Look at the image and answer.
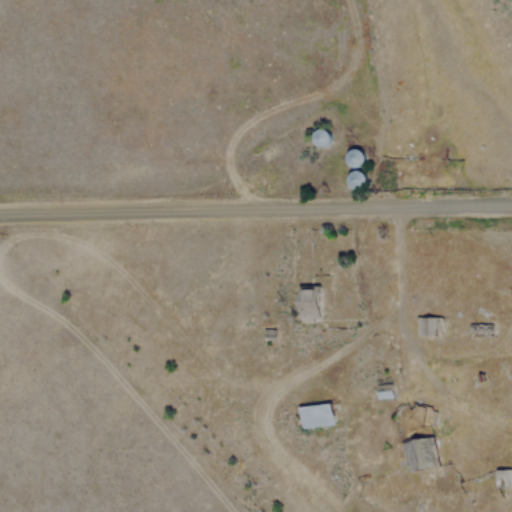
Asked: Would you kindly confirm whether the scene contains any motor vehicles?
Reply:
No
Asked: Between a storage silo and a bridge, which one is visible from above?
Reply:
storage silo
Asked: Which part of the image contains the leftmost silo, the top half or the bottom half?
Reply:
top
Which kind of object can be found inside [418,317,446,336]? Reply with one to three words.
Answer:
barn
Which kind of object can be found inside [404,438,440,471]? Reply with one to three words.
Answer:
barn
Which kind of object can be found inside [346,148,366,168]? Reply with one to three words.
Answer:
silo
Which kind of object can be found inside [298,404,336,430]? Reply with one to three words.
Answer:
house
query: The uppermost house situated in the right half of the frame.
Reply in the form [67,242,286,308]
[296,288,324,324]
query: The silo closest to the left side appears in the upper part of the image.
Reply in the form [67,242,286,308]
[312,128,334,149]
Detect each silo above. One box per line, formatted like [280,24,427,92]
[346,148,366,168]
[312,128,334,149]
[347,170,368,190]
